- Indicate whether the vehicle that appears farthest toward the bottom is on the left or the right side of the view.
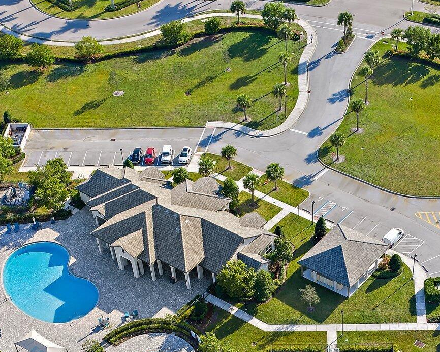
right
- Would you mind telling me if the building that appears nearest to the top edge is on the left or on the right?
left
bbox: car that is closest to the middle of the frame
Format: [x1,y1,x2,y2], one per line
[178,145,190,161]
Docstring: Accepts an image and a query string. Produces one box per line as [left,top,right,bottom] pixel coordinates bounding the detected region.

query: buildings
[298,223,389,296]
[1,122,28,152]
[74,165,279,289]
